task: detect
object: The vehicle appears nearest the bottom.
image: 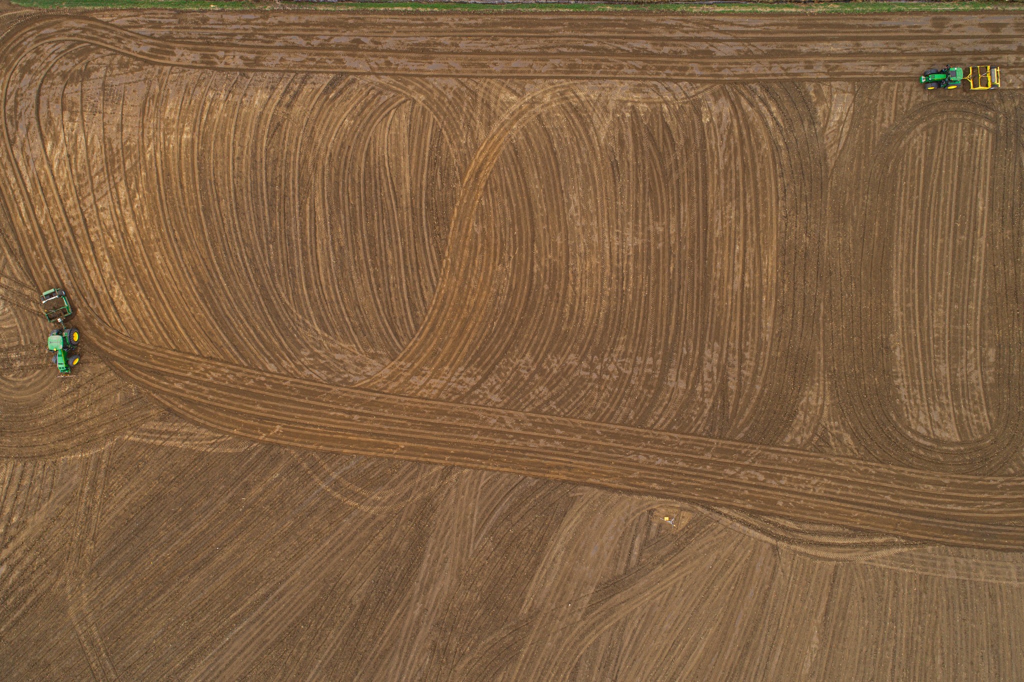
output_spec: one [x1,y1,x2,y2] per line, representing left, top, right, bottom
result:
[48,328,82,378]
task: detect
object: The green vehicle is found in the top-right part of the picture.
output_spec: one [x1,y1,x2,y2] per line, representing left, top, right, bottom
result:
[919,66,963,91]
